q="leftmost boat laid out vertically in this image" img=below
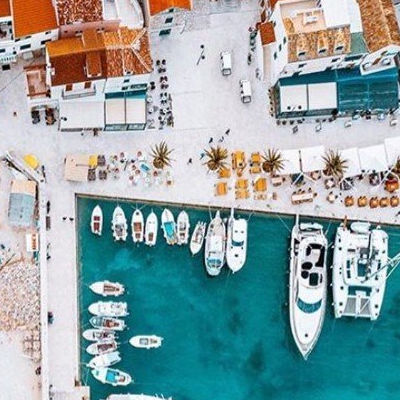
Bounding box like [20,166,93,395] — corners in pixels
[90,205,103,238]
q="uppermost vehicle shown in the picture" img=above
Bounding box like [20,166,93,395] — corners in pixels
[218,50,232,79]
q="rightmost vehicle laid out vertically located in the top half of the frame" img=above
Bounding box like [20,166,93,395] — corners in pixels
[238,79,252,107]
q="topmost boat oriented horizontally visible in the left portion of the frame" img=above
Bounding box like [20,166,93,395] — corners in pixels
[89,281,126,297]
